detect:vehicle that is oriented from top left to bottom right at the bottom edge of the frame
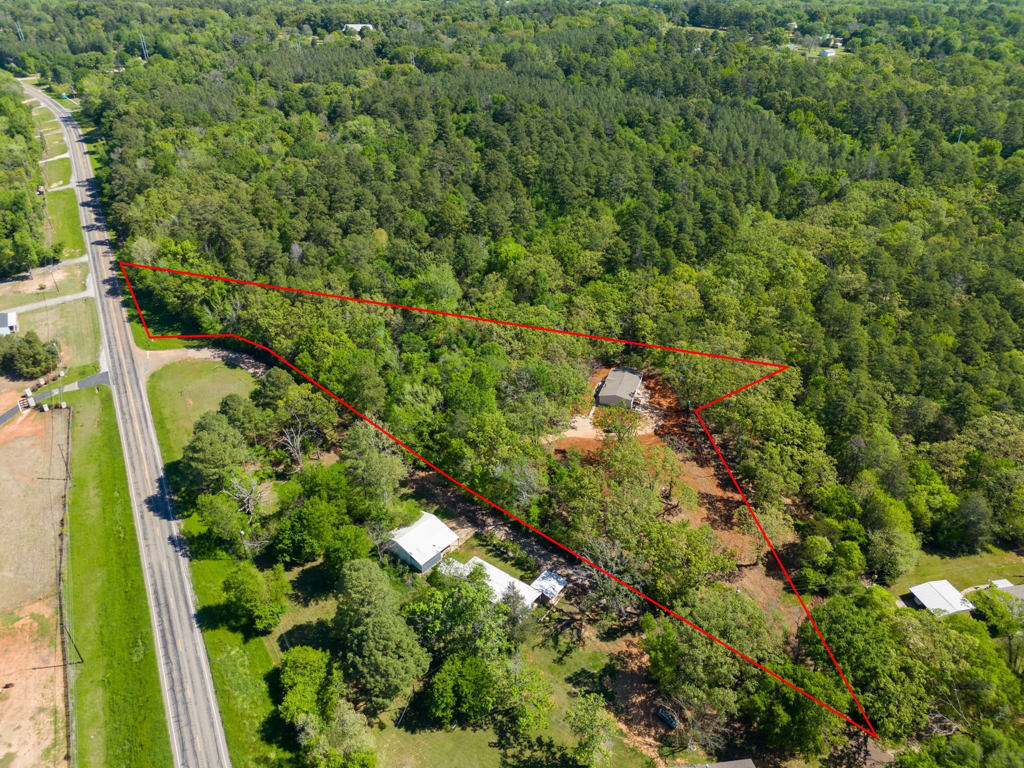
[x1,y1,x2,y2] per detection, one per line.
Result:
[654,706,679,732]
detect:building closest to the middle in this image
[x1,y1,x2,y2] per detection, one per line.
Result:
[597,367,645,411]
